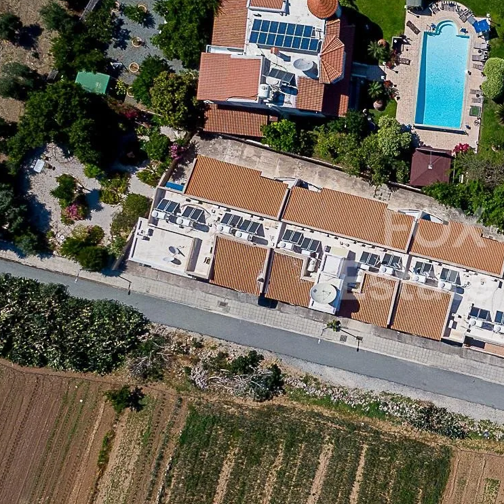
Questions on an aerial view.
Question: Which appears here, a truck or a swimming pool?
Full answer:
It is a swimming pool that can be seen here.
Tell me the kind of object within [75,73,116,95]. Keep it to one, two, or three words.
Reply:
shed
